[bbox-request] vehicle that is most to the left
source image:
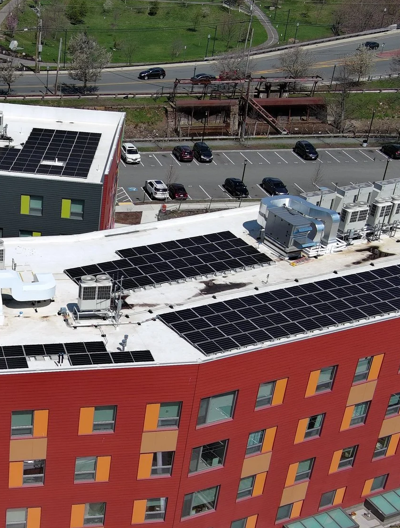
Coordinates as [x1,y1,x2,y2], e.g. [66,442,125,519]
[123,141,141,160]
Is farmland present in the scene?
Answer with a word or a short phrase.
No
